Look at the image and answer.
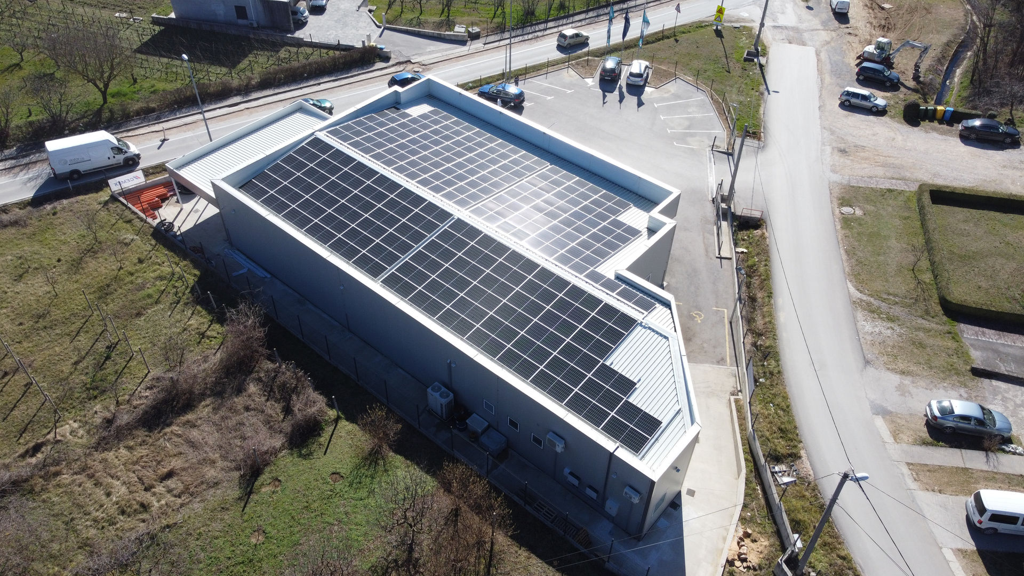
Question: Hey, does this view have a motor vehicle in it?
Yes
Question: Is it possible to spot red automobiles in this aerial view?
No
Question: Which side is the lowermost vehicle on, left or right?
right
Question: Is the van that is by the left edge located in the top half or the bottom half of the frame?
top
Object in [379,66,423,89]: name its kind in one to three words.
car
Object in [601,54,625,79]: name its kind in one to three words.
car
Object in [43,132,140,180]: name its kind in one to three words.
van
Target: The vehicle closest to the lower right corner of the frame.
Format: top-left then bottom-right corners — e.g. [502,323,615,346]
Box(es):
[964,489,1024,536]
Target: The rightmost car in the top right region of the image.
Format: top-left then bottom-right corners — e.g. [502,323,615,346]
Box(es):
[960,117,1022,143]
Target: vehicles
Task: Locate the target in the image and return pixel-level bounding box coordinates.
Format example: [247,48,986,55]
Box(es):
[853,35,931,81]
[379,66,423,89]
[601,54,625,79]
[831,0,852,12]
[964,489,1024,536]
[925,400,1014,442]
[43,132,140,180]
[854,60,901,87]
[838,85,889,113]
[477,82,528,108]
[285,96,335,113]
[627,58,651,83]
[555,27,592,48]
[960,117,1022,143]
[291,4,313,25]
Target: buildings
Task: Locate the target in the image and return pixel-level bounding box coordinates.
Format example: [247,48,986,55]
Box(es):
[166,74,702,542]
[166,0,295,30]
